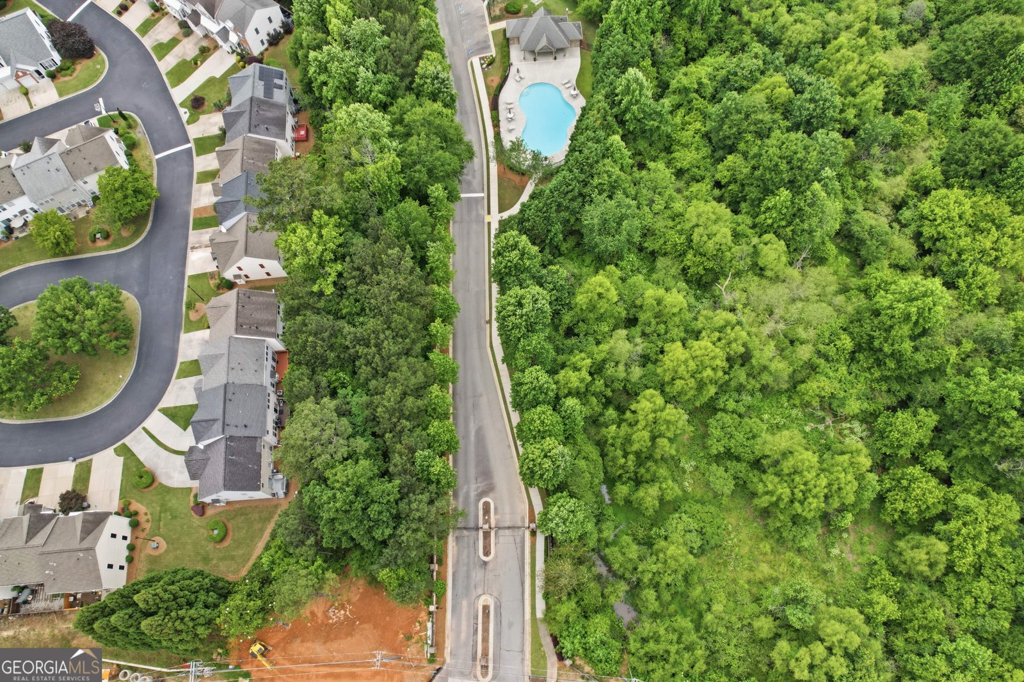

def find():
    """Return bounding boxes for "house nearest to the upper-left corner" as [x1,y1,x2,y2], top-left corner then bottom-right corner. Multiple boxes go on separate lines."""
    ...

[0,6,61,98]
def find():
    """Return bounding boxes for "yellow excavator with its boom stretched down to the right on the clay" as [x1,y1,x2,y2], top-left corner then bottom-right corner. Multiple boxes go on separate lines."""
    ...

[253,638,277,673]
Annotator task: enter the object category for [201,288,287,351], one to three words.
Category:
house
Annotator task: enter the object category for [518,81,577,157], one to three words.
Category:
swimming pool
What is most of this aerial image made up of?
trees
